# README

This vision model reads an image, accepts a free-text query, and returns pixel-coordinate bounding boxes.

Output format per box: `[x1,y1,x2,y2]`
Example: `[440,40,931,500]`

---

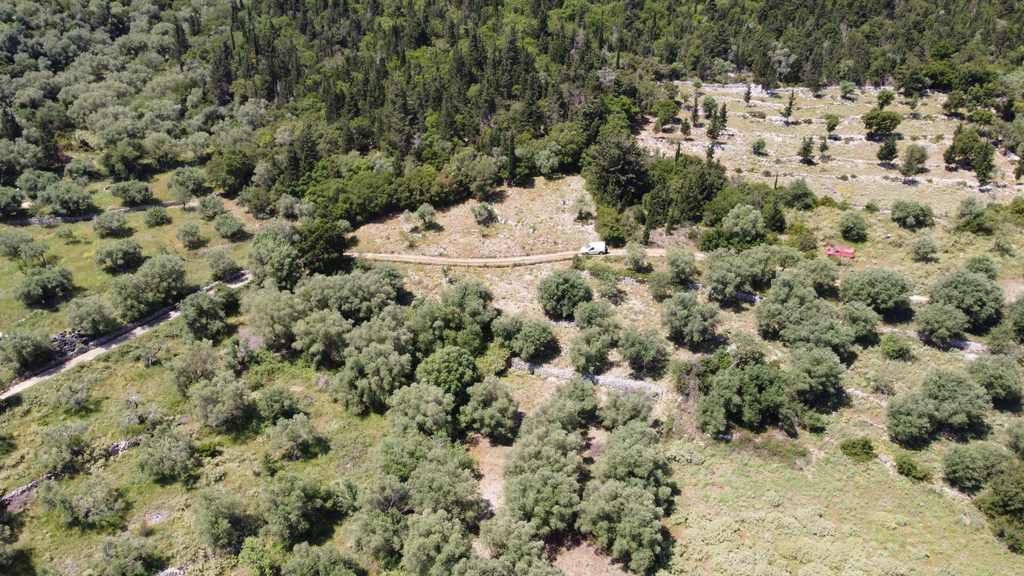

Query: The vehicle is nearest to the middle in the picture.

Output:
[581,242,606,256]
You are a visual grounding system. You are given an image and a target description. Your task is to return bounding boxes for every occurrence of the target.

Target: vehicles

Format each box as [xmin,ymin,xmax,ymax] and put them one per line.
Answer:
[826,247,856,259]
[581,242,606,256]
